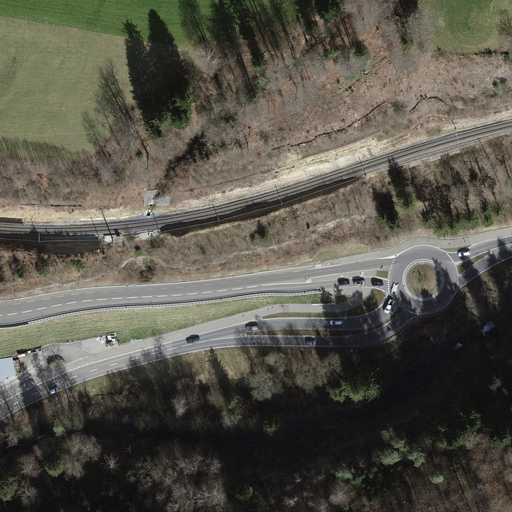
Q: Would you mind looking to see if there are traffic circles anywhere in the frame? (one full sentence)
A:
Yes, I can see a traffic circle in this picture.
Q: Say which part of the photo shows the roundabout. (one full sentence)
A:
The roundabout is in the right part of the image.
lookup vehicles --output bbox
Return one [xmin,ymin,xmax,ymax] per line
[107,332,114,347]
[186,336,200,342]
[338,280,350,286]
[372,281,384,287]
[246,324,258,330]
[352,280,365,286]
[305,338,316,344]
[458,250,470,256]
[392,282,398,294]
[330,320,343,325]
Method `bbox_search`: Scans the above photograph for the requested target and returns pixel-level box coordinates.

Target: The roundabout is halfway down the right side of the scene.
[388,246,458,315]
